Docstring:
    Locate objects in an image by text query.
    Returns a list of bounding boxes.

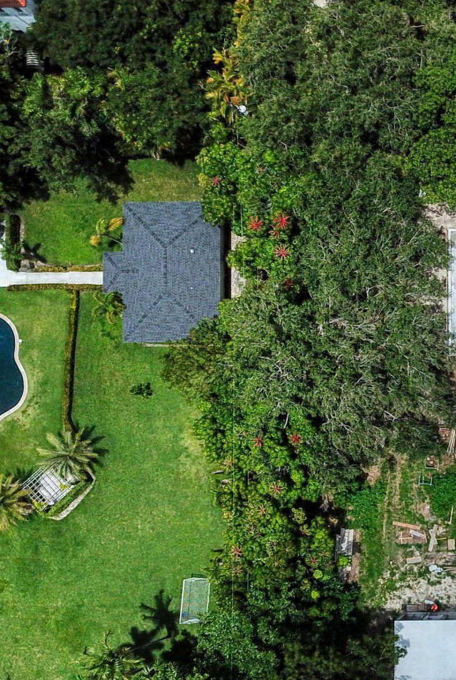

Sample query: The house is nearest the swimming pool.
[102,200,231,347]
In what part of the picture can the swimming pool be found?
left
